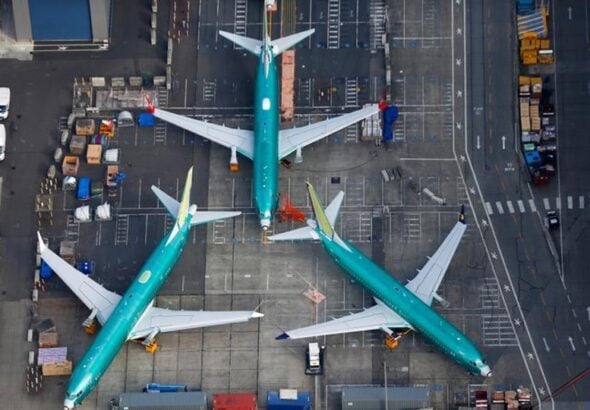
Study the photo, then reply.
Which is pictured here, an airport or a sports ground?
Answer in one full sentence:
This looks like an airport.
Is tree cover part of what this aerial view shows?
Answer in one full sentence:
No, tree cover can't be seen anywhere here.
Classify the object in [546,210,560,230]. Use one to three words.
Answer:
vehicle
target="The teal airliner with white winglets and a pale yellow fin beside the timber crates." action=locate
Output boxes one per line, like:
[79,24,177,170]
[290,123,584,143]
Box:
[33,167,267,410]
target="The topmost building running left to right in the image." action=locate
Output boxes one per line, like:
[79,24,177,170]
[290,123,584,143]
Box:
[13,0,108,44]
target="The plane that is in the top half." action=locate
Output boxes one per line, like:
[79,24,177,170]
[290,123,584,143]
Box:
[143,0,390,229]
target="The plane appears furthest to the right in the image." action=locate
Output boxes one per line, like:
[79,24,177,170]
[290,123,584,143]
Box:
[267,182,490,377]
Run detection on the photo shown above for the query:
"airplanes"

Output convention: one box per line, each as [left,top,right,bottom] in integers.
[267,182,490,377]
[33,167,267,410]
[143,0,390,229]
